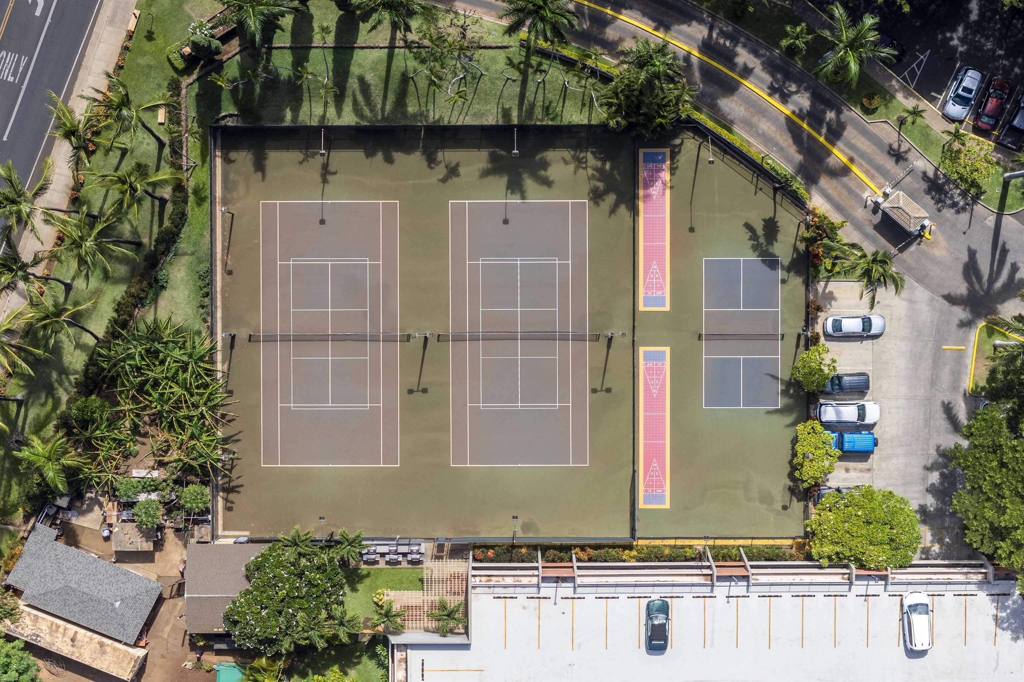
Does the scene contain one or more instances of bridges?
No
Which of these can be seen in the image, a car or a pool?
car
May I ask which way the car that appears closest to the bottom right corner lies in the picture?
from top to bottom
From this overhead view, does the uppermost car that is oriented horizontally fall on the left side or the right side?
right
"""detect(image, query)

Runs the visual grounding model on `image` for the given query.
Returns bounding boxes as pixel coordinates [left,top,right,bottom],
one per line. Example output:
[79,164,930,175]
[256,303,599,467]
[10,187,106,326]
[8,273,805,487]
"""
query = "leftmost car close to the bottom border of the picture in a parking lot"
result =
[644,599,672,651]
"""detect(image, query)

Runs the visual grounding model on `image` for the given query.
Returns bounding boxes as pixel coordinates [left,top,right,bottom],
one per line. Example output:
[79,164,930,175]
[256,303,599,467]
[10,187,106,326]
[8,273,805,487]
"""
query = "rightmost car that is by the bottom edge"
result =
[903,592,933,652]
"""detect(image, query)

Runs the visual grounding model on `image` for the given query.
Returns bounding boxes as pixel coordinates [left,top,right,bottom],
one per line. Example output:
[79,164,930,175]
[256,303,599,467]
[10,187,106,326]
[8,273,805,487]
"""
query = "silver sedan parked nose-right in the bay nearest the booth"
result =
[823,312,885,339]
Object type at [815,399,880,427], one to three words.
car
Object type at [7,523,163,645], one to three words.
house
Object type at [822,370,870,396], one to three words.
car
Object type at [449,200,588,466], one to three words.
tennis court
